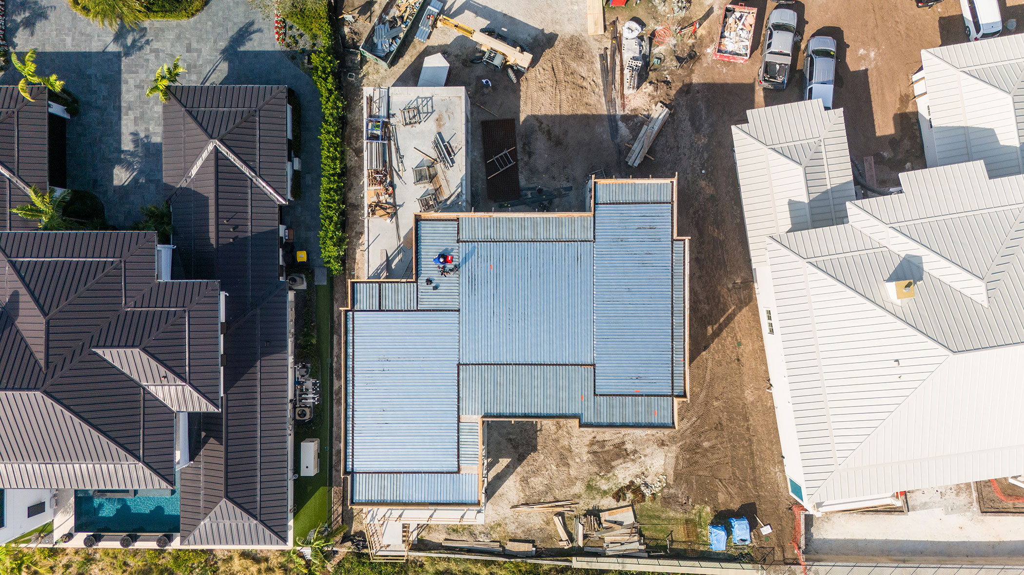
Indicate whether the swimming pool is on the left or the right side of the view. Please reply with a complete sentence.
The swimming pool is on the left side of the image.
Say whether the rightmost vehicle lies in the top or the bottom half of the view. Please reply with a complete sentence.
The rightmost vehicle is in the top half of the image.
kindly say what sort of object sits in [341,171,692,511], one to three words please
house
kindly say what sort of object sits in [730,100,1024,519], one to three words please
house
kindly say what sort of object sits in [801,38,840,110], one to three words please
truck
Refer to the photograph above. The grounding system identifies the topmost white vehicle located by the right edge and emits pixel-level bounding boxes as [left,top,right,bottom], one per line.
[956,0,1005,42]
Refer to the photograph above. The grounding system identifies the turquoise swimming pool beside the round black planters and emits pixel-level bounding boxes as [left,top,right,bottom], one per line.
[73,470,186,533]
